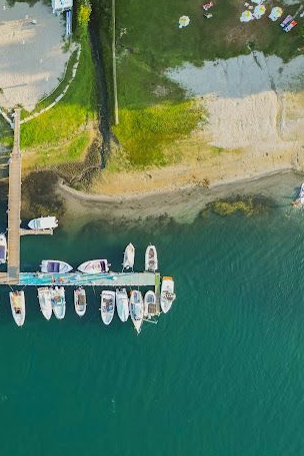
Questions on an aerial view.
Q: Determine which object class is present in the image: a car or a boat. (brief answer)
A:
boat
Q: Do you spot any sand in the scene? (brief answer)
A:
Yes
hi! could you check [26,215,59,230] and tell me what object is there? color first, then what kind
white boat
